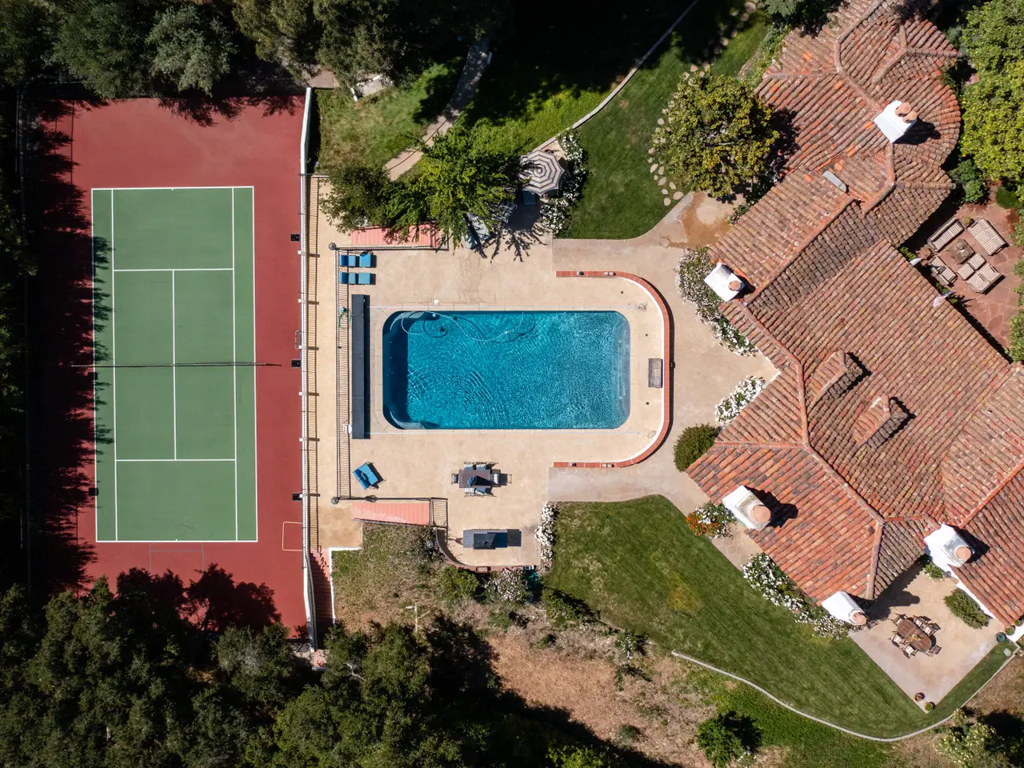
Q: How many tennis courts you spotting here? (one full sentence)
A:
The photo contains exactly 1 tennis court.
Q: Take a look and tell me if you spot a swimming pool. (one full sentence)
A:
Yes, the photo shows a swimming pool.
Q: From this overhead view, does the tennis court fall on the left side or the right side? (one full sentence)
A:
It is on the left.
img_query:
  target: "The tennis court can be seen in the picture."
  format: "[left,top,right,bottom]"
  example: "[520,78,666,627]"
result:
[38,92,319,635]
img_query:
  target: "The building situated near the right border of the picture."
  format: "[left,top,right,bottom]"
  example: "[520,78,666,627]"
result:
[687,0,1024,629]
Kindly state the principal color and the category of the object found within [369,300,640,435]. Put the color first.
blue swimming pool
